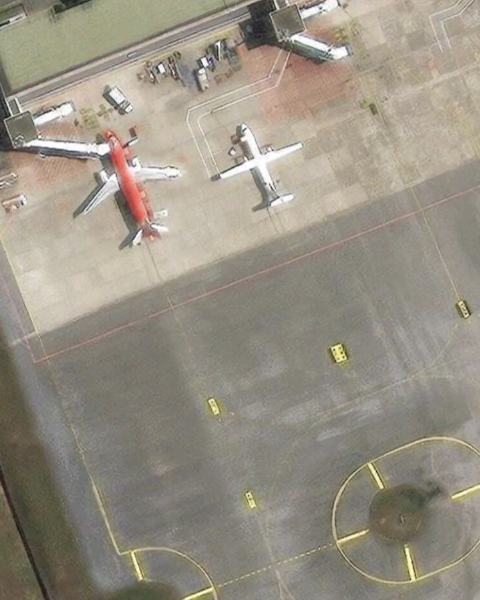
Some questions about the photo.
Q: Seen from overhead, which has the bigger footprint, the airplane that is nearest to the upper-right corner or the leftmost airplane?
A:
the leftmost airplane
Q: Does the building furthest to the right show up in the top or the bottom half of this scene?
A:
top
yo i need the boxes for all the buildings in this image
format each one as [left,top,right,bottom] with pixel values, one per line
[264,0,306,43]
[0,0,258,101]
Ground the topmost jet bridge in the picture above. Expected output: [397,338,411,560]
[300,0,341,19]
